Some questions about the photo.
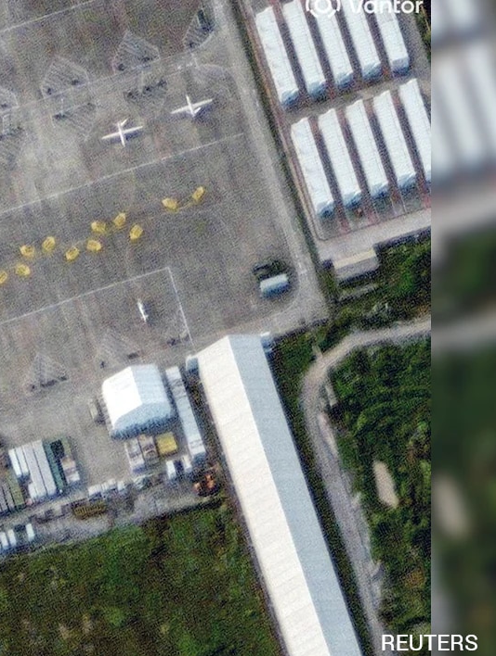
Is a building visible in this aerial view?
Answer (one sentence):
Yes, you can see a building in this photo.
